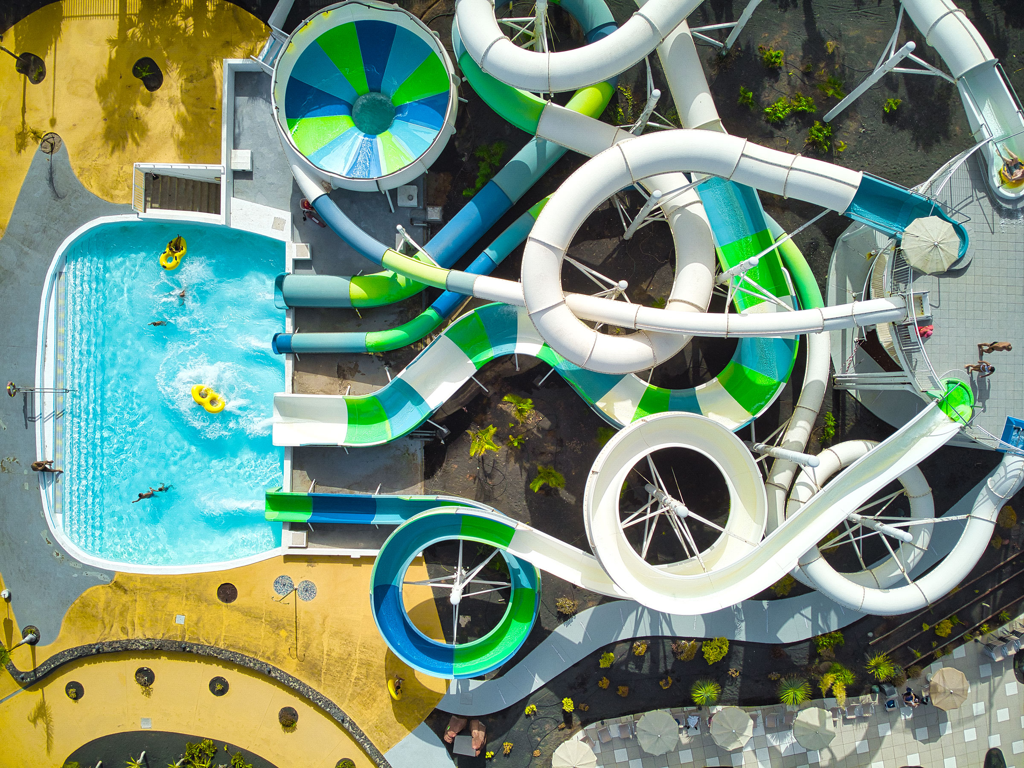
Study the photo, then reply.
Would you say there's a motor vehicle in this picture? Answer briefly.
No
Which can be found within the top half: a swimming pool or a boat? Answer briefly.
swimming pool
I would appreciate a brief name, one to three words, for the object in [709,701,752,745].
umbrella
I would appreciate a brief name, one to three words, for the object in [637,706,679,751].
umbrella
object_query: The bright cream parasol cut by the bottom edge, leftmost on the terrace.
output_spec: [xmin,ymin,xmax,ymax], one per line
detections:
[552,735,595,768]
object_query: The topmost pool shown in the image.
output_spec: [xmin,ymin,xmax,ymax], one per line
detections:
[356,94,397,135]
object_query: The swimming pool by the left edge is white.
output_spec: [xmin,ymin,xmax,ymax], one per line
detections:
[34,213,286,575]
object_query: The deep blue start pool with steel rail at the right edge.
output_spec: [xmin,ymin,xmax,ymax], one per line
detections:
[982,413,1024,456]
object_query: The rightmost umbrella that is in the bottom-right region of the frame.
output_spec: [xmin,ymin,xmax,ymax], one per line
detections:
[922,664,965,707]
